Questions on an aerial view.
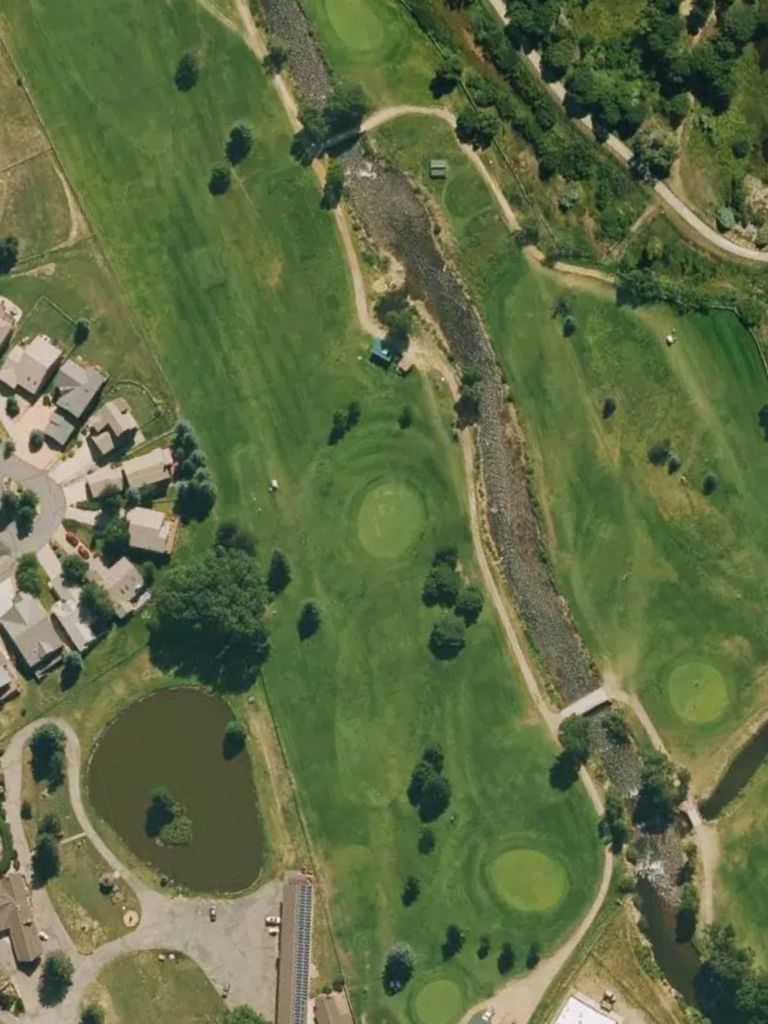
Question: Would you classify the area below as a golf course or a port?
golf course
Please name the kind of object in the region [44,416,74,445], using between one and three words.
building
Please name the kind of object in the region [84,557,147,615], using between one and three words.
house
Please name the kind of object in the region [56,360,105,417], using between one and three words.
house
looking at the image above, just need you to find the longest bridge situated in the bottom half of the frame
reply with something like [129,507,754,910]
[558,690,609,721]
